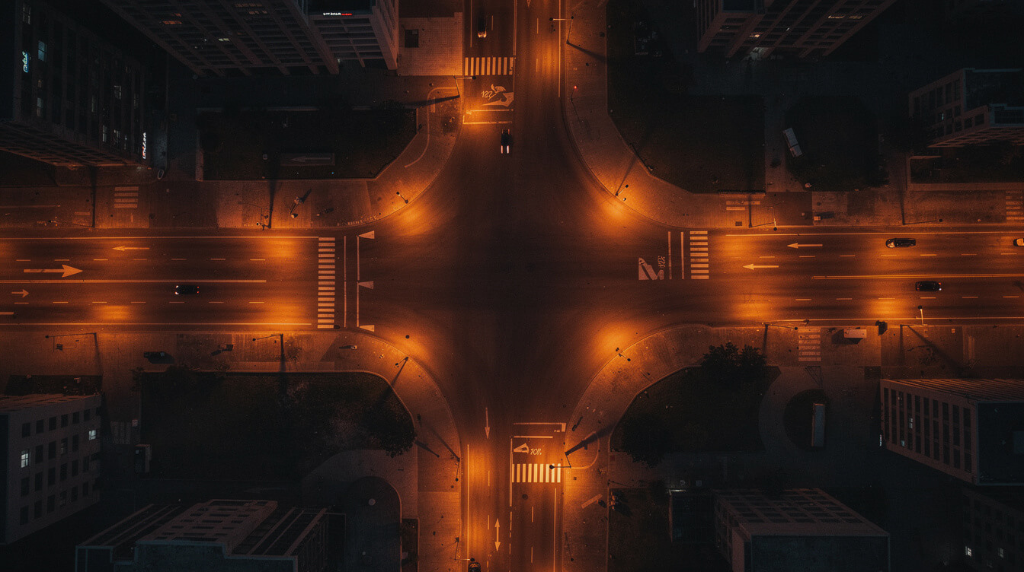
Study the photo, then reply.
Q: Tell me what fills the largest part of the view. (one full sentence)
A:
The largest share of the image is taken up by paved ground.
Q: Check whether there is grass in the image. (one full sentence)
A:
Yes, there is grass in the image.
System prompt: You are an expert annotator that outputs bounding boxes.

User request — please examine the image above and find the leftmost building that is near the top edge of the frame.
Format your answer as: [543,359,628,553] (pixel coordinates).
[0,0,144,165]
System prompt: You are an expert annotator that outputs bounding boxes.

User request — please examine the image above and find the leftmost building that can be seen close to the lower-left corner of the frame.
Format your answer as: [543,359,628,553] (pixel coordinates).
[0,396,100,550]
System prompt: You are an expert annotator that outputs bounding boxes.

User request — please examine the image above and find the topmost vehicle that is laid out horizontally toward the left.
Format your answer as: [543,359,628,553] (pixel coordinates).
[173,284,198,296]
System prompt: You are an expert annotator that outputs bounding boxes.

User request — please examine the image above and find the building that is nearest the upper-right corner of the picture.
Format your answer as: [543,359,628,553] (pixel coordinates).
[909,65,1024,146]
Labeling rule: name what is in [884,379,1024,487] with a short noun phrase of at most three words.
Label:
building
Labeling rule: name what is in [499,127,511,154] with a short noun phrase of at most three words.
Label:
vehicle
